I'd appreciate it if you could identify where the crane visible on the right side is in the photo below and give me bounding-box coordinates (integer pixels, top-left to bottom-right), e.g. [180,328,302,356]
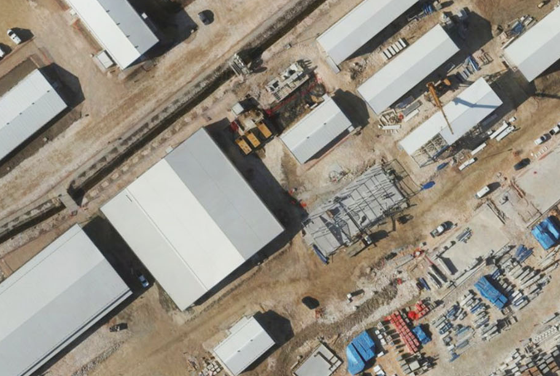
[418,75,454,142]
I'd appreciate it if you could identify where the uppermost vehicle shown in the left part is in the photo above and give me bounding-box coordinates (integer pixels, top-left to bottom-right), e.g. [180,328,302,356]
[196,9,210,23]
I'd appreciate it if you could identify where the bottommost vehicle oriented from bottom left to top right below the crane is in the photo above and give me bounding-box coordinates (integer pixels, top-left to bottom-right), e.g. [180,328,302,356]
[434,223,451,236]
